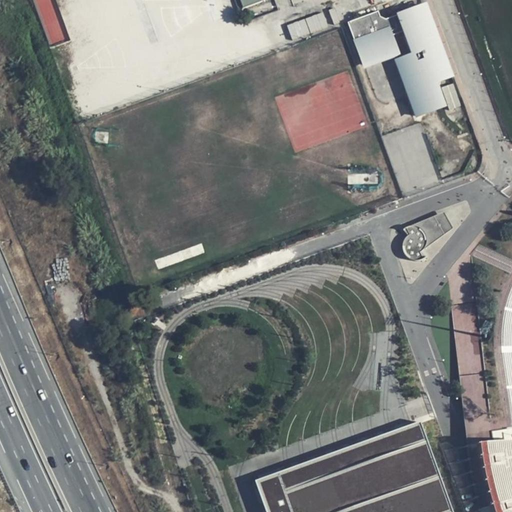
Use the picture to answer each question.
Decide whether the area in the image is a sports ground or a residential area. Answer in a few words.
sports ground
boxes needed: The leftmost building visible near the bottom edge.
[256,424,452,512]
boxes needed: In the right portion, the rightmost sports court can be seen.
[384,124,439,194]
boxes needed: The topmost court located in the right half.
[275,70,368,152]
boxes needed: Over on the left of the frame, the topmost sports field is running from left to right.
[54,0,340,120]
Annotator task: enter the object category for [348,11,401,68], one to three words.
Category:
building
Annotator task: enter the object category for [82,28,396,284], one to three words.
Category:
sports field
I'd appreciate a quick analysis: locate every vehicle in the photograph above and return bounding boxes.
[460,494,470,500]
[38,389,46,400]
[7,406,15,417]
[65,452,73,464]
[464,504,475,511]
[48,456,56,468]
[20,458,29,470]
[19,364,27,375]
